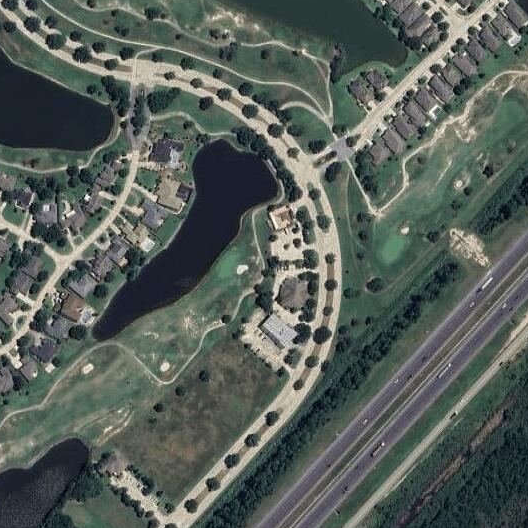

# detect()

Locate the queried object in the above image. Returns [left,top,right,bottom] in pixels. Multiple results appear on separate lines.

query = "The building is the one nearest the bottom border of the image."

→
[102,451,129,479]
